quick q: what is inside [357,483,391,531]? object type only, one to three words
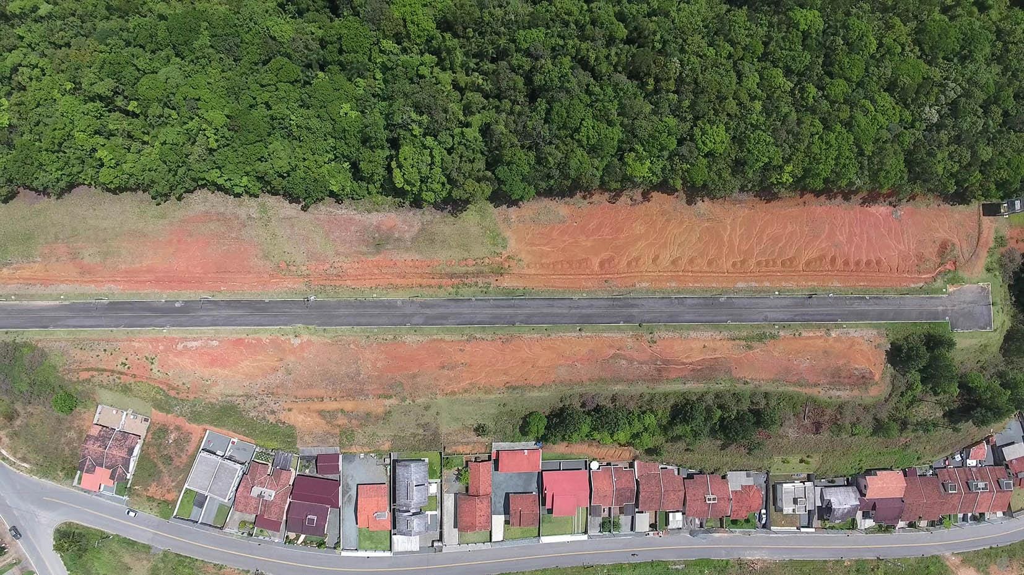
house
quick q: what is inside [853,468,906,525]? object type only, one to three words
house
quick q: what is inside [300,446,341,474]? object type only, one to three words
shed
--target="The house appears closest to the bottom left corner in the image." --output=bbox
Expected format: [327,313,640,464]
[79,425,143,492]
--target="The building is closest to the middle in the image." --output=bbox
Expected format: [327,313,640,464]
[492,441,542,473]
